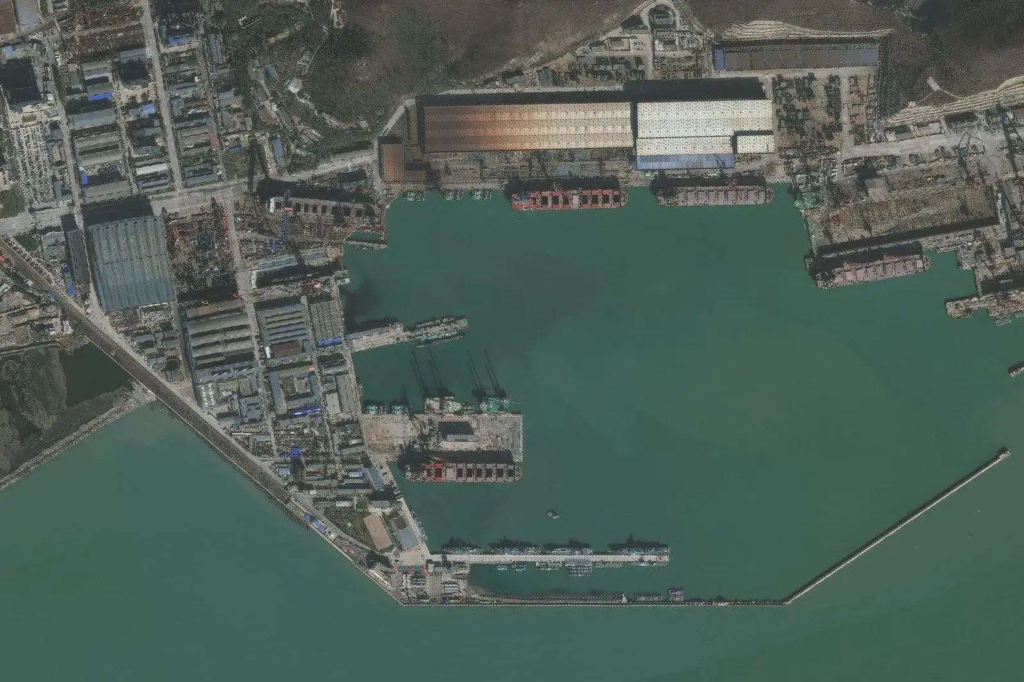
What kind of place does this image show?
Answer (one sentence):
The area seen from above is a port.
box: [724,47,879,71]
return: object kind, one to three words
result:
shed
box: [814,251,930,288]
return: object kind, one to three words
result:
ship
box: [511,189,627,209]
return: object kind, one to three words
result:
ship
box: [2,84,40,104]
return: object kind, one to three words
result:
building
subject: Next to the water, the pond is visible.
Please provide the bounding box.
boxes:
[59,339,134,407]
